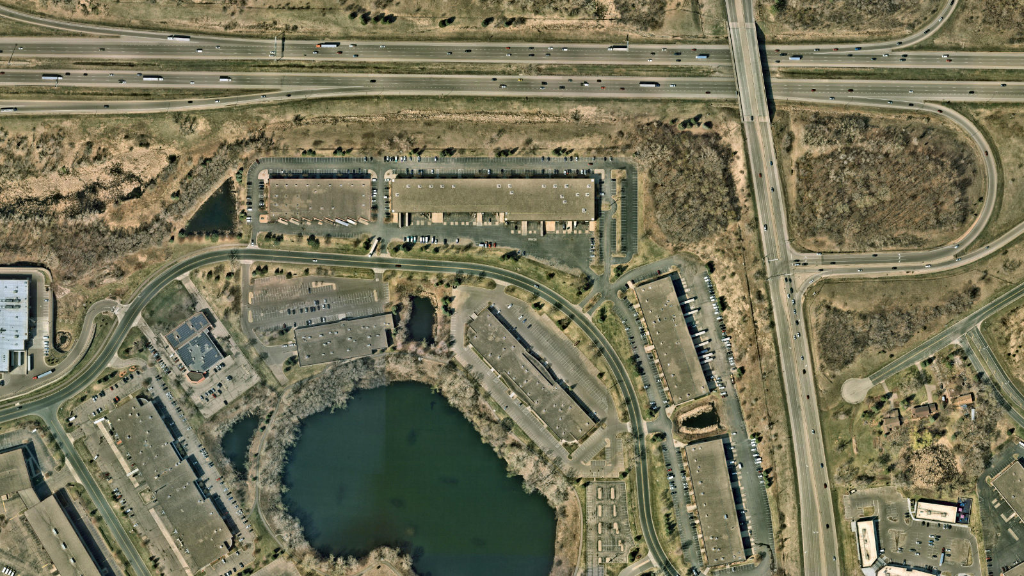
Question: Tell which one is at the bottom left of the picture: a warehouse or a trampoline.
warehouse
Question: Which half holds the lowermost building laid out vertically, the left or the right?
right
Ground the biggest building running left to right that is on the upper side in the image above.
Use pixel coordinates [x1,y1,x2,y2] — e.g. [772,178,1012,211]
[392,178,595,221]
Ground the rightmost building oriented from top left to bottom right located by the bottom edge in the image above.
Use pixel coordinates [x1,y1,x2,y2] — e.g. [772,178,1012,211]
[93,398,232,568]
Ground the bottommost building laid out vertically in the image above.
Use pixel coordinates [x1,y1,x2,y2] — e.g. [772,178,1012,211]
[857,520,879,567]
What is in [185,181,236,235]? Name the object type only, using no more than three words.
pond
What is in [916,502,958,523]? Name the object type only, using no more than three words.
building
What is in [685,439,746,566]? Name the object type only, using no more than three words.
building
